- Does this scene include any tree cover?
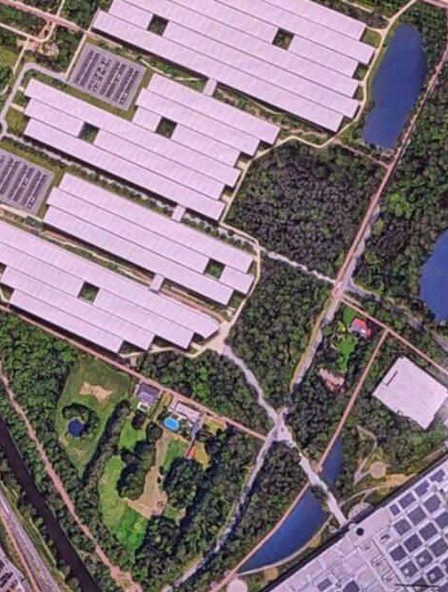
Yes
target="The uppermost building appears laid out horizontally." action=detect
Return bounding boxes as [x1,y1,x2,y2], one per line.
[94,0,375,131]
